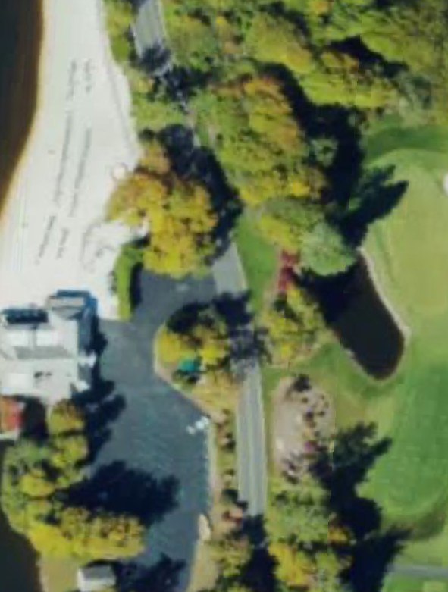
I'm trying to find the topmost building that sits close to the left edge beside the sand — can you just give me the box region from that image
[0,290,96,403]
